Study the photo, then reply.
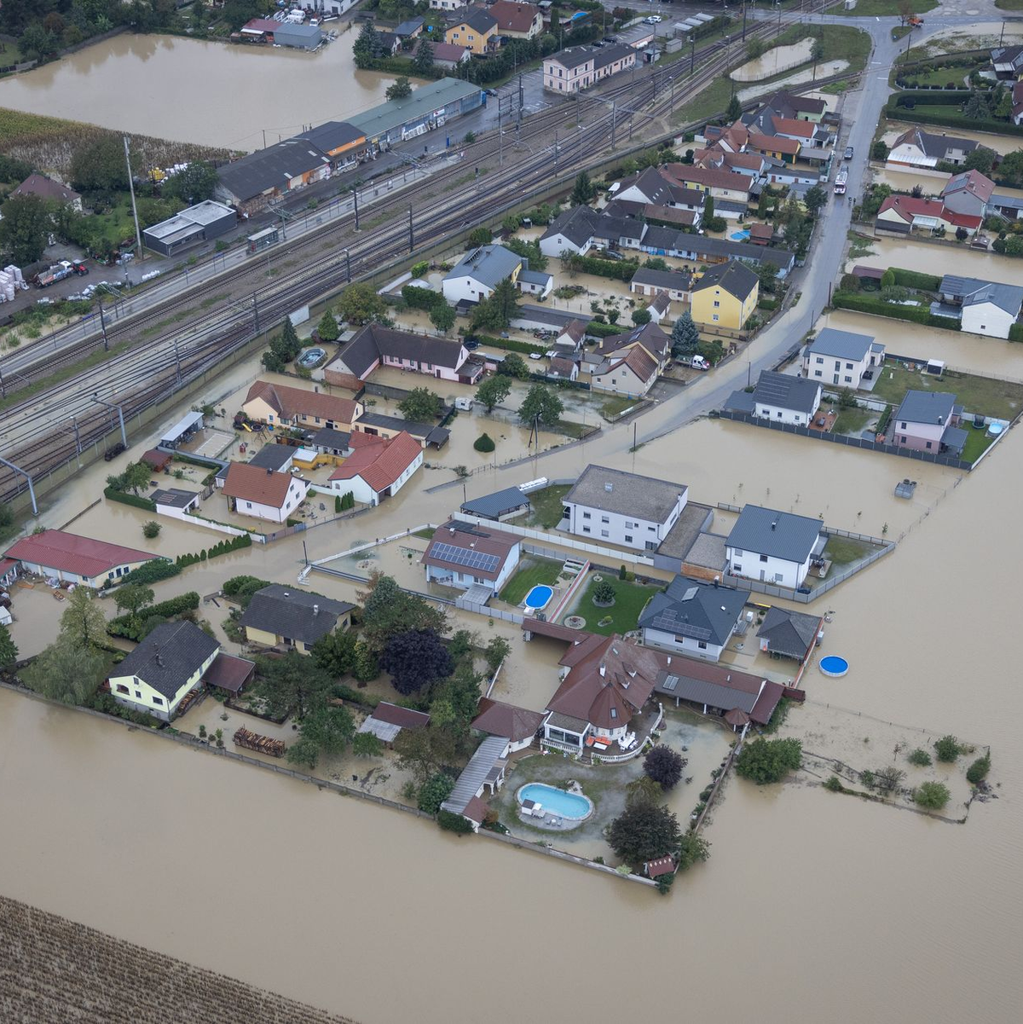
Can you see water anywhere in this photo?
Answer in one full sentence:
Yes, there's water in this view.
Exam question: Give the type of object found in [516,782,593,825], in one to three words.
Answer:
swimming pool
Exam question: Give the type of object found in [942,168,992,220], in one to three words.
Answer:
house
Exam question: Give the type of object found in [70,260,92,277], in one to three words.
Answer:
work vehicle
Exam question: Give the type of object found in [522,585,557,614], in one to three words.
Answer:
swimming pool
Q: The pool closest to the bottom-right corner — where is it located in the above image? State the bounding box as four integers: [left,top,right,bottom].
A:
[819,655,849,678]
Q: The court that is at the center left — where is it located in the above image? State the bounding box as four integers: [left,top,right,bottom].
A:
[198,425,247,463]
